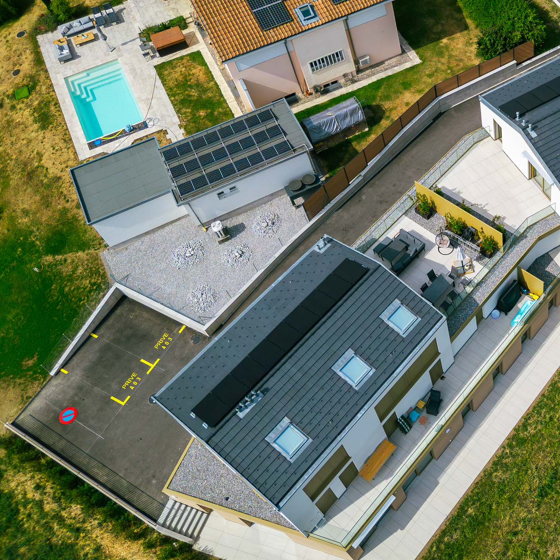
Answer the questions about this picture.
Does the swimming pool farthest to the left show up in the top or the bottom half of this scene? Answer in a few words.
top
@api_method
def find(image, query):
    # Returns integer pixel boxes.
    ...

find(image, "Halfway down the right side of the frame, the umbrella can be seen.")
[452,245,477,278]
